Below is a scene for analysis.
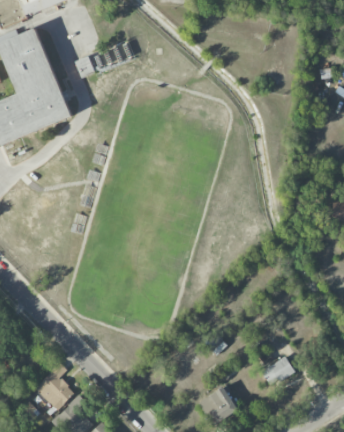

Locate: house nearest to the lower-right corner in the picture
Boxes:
[264,358,294,386]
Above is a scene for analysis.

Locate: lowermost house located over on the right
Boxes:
[202,388,236,422]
